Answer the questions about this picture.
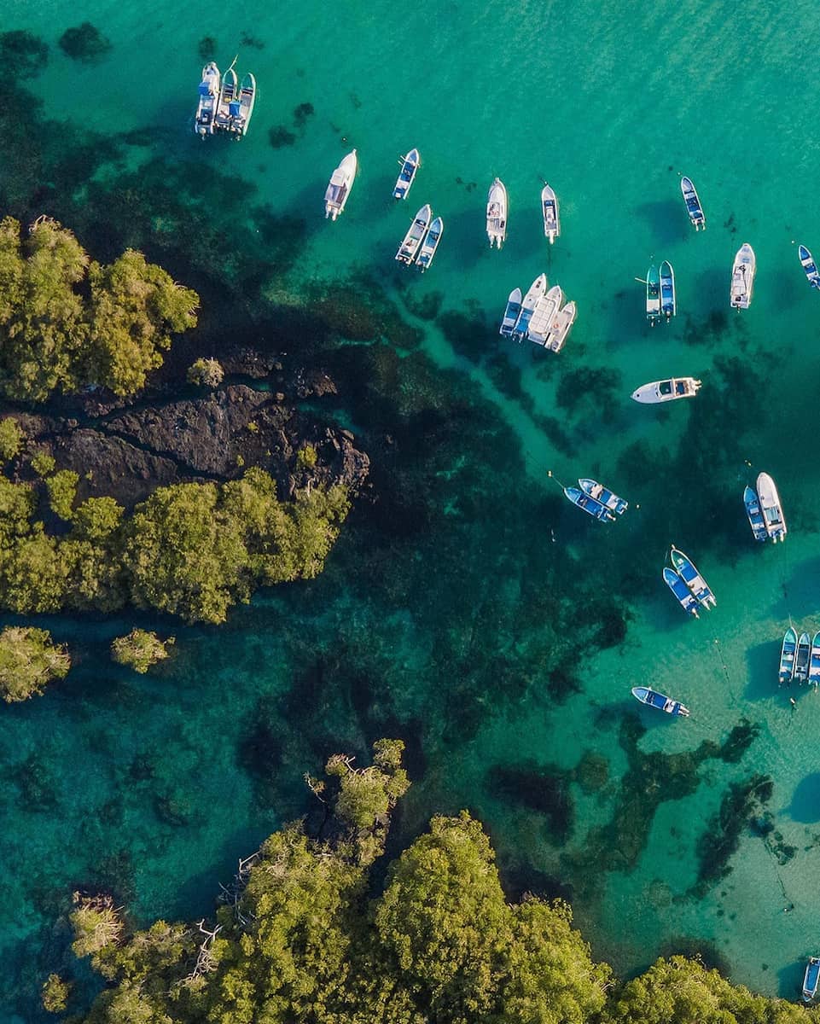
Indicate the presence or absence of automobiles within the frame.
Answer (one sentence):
No, the photo shows no automobile.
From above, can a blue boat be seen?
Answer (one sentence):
Yes, the frame does contain a blue boat.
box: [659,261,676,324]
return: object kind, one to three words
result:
boat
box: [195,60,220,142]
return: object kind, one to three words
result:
boat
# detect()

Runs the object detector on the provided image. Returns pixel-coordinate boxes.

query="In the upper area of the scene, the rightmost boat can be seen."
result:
[798,246,820,295]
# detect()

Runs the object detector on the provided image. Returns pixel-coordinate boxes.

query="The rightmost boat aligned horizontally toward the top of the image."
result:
[630,376,705,403]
